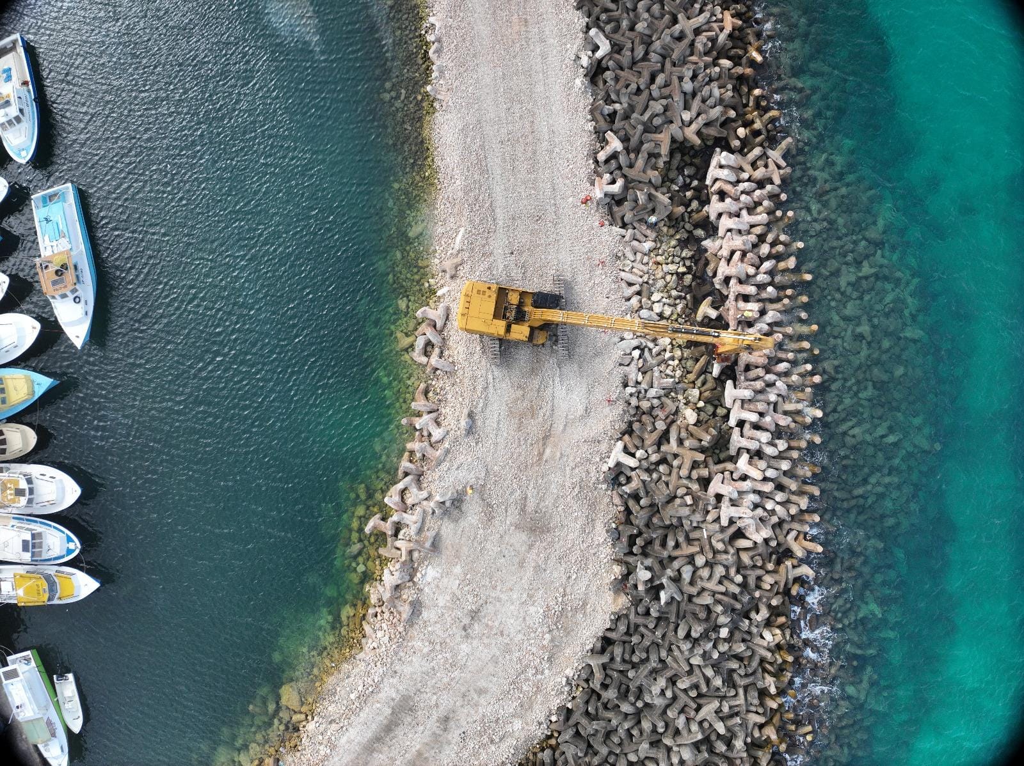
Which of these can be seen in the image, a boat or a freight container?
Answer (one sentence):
Of the two, only a boat appears.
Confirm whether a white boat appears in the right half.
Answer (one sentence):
No, no white boat can be made out in the right half.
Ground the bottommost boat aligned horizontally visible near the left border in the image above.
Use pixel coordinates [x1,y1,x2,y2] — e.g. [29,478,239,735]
[0,563,100,606]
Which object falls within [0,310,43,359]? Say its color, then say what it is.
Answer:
white boat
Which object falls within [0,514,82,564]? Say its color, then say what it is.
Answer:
white boat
